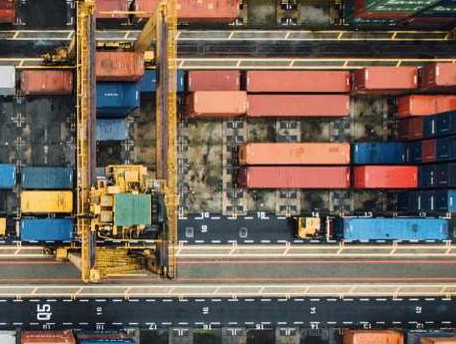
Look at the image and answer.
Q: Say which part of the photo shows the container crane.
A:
left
